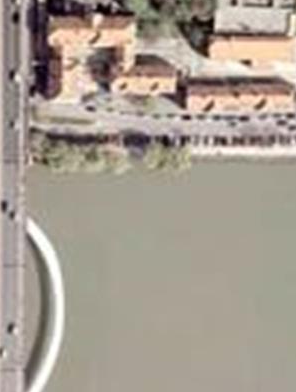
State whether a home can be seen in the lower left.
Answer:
No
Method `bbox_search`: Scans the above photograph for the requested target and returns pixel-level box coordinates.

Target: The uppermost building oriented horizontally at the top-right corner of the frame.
[213,0,296,34]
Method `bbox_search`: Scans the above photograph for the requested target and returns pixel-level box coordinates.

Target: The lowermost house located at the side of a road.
[185,80,296,112]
